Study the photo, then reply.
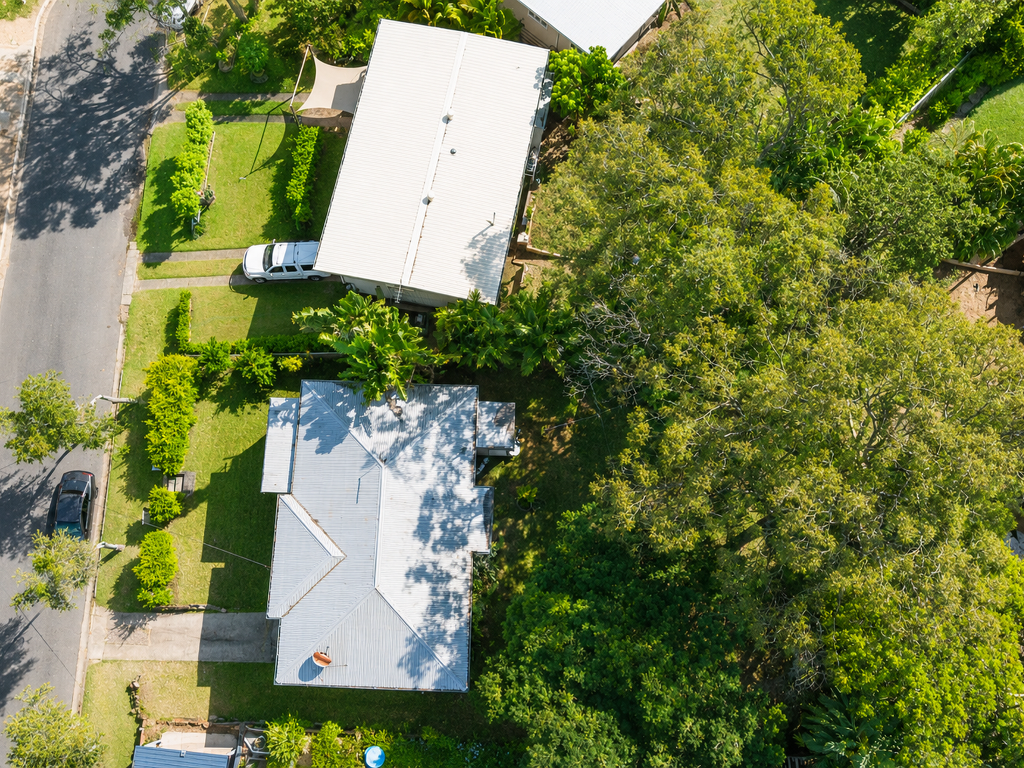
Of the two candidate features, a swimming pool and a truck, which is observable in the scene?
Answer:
truck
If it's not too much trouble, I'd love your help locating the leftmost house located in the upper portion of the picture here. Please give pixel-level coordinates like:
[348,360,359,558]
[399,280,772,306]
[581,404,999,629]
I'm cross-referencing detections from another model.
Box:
[312,19,555,319]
